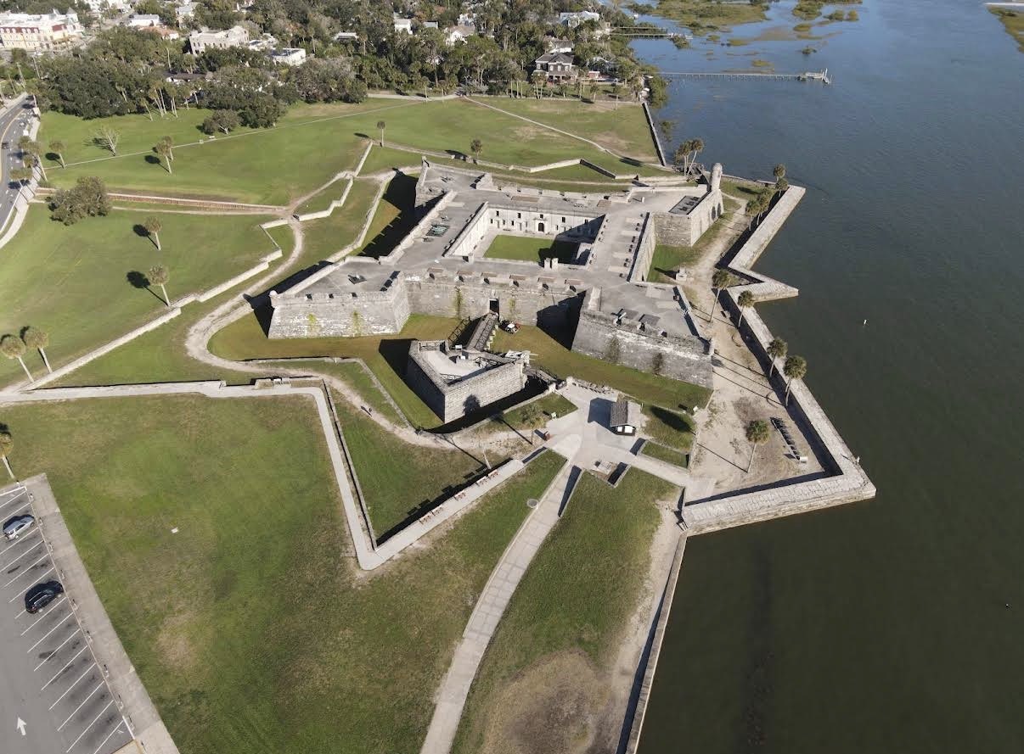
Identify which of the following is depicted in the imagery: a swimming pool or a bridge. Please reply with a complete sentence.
This aerial view contains a bridge.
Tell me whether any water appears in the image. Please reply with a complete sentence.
Yes, some water is visible.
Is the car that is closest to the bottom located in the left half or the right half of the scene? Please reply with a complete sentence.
The car that is closest to the bottom is on the left side of the image.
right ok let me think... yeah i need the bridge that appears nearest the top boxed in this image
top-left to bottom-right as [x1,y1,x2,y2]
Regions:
[469,304,503,356]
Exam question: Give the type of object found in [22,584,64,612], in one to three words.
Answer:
car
